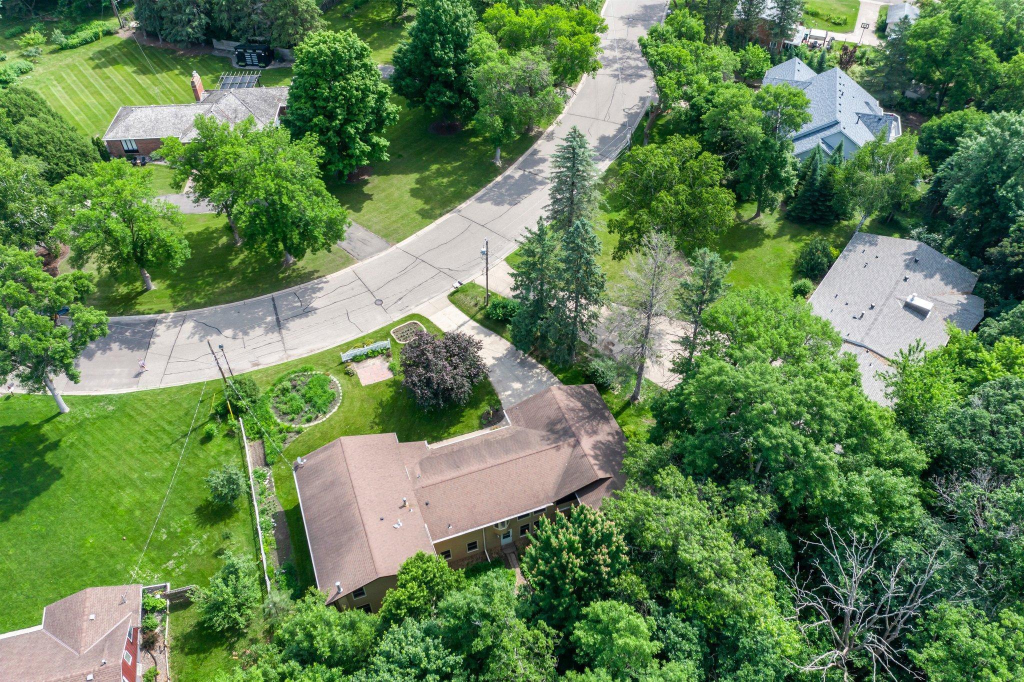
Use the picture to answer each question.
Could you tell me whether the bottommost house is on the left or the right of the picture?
left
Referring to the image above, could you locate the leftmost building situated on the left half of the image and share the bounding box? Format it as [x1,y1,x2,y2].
[0,581,151,682]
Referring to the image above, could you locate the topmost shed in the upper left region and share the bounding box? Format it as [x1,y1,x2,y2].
[231,42,272,66]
